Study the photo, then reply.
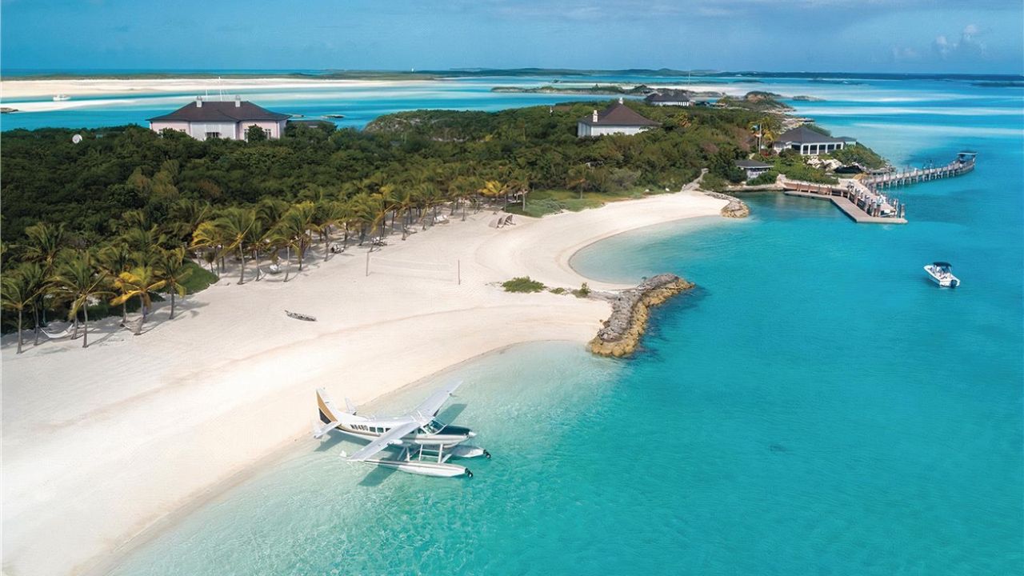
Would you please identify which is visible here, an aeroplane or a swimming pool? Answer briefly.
aeroplane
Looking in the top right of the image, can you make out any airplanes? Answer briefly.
No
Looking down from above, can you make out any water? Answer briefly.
Yes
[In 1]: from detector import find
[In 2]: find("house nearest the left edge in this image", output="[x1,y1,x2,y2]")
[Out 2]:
[141,96,290,138]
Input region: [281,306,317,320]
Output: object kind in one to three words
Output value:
boat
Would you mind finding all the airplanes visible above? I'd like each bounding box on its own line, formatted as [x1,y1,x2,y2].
[307,373,491,479]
